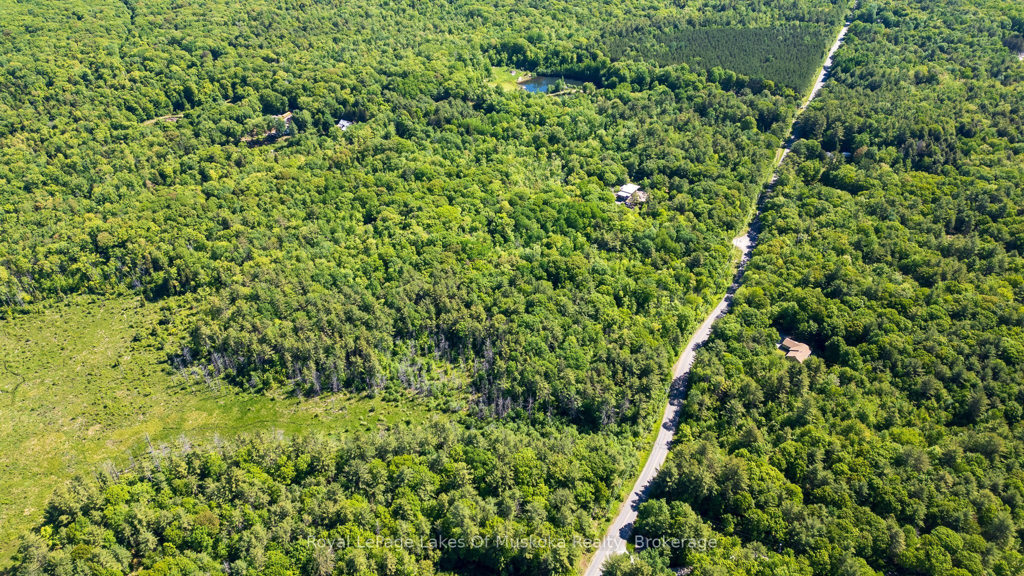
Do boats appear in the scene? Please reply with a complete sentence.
No, no boat is visible in the scene.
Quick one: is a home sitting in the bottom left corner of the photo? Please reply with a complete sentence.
No, there is no home in the bottom left corner of the photo.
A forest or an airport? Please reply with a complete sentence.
This image shows a forest.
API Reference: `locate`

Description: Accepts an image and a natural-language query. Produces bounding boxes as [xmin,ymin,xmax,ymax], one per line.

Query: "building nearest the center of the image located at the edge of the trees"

[612,183,641,203]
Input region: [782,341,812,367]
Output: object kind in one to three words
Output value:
house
